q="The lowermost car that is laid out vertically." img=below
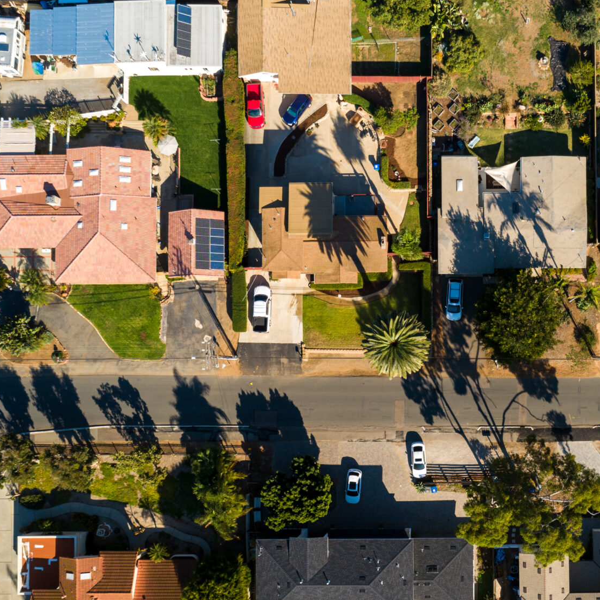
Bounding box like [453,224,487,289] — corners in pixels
[344,467,363,504]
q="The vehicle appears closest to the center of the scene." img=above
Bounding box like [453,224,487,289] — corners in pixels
[251,286,271,332]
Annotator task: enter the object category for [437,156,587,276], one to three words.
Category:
house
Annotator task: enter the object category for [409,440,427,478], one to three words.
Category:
car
